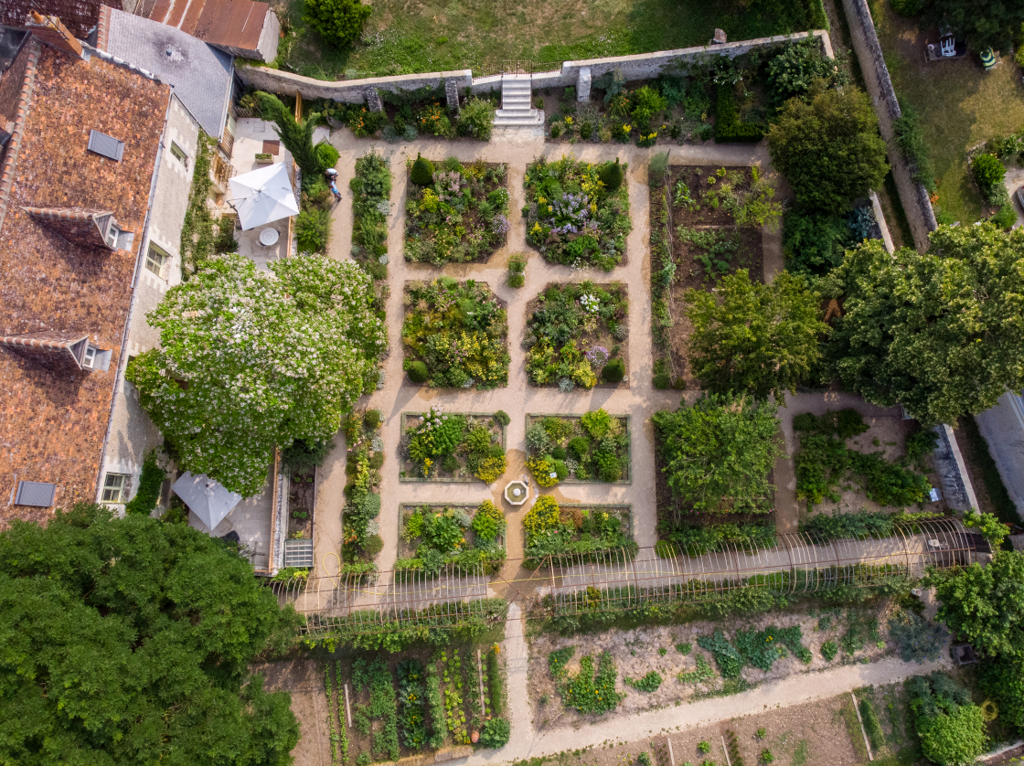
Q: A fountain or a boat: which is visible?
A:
fountain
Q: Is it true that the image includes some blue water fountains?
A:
No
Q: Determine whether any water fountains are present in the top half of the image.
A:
No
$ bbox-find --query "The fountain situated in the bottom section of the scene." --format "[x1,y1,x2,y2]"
[504,480,529,505]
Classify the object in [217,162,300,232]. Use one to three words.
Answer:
umbrella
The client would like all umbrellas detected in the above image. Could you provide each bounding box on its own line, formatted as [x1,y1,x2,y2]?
[156,467,243,530]
[217,162,300,232]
